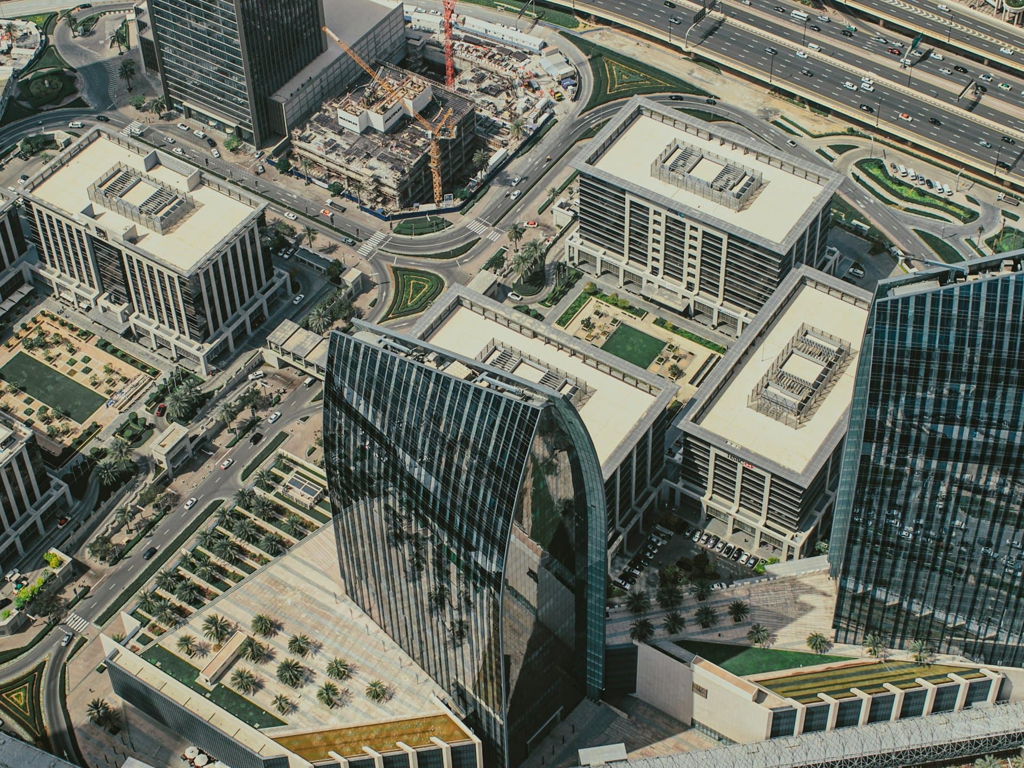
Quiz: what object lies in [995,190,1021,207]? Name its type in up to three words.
vehicle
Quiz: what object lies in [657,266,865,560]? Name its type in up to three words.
building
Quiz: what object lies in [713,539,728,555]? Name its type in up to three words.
car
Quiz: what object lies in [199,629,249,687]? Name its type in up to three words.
house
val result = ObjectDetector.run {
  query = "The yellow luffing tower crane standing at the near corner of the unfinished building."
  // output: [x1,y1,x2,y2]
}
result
[323,26,462,209]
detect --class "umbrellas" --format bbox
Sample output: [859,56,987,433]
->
[184,746,200,760]
[213,759,229,768]
[193,754,209,768]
